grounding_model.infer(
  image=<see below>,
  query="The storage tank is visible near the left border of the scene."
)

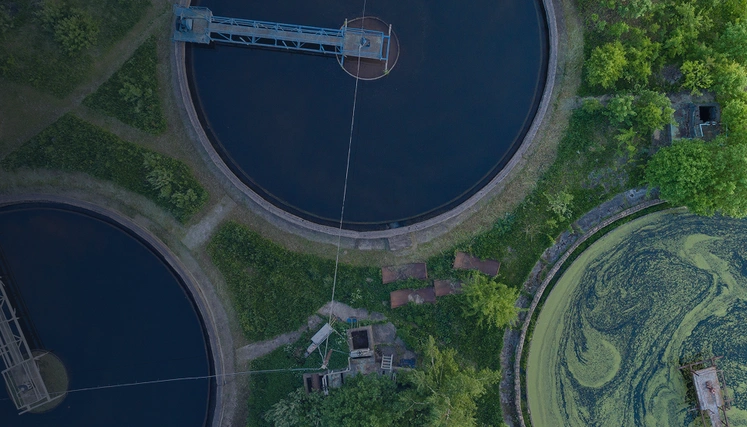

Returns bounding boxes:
[0,193,226,427]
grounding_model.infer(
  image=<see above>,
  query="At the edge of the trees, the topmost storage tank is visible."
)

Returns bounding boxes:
[175,0,557,238]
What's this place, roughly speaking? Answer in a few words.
industrial area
